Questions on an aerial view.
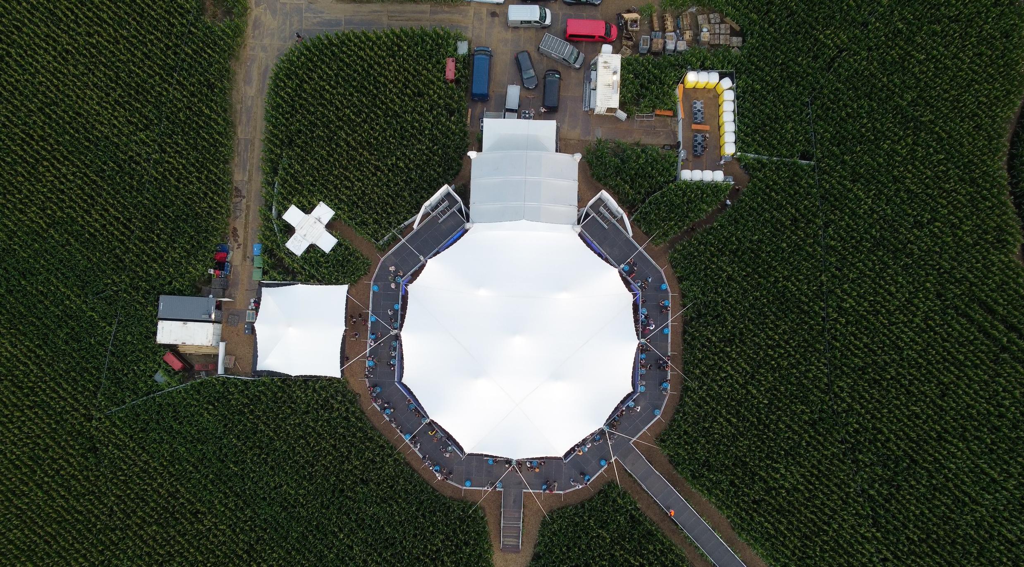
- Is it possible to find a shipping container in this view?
Yes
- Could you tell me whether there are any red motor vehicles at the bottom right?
No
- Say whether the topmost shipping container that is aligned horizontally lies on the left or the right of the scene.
left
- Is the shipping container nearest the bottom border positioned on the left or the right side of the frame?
left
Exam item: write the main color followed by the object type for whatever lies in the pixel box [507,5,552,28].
white vehicle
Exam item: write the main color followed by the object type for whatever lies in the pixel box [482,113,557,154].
white tent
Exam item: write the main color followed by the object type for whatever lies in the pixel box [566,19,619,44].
red vehicle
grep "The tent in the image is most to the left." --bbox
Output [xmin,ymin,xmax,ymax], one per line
[252,283,353,378]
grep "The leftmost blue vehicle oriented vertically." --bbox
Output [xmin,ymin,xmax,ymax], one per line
[471,47,494,101]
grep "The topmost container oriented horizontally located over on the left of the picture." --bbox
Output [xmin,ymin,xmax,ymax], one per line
[158,295,234,322]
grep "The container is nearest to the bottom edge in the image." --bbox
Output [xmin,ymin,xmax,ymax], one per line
[156,320,222,346]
